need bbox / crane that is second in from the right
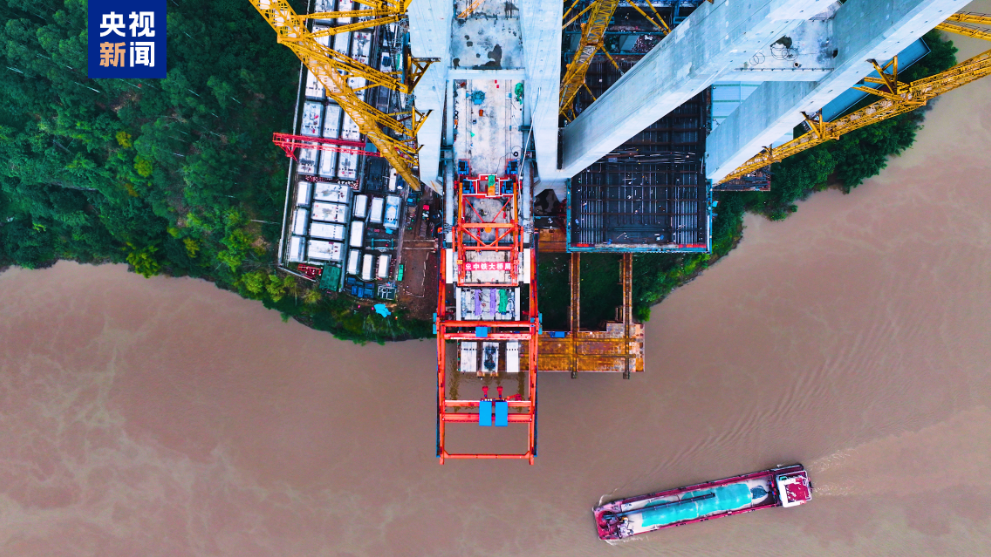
[453,159,524,285]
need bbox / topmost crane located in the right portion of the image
[560,0,687,140]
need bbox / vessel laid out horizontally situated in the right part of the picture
[592,462,819,542]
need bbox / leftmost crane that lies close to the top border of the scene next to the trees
[231,0,438,189]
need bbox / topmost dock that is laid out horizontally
[458,322,646,373]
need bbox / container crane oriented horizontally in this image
[272,132,387,160]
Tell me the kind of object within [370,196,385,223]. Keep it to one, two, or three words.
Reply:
building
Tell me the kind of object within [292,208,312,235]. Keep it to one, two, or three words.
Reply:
building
